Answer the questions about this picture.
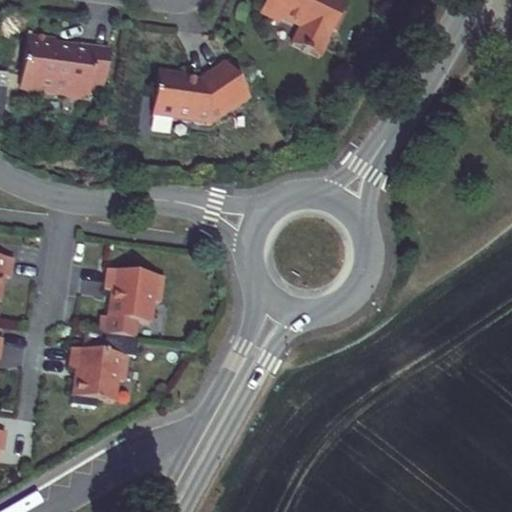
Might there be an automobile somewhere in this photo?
Yes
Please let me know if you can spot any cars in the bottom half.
Yes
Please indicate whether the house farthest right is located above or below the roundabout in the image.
above it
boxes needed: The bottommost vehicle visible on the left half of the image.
[0,490,45,512]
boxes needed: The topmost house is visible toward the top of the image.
[262,0,348,58]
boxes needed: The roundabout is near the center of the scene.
[230,180,384,334]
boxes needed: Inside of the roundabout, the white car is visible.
[290,314,312,332]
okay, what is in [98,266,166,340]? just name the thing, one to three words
house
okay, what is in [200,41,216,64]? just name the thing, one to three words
car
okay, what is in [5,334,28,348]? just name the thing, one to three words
car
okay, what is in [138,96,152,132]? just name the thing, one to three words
building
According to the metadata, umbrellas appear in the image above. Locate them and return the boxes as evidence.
[174,124,186,136]
[144,352,154,362]
[276,30,286,40]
